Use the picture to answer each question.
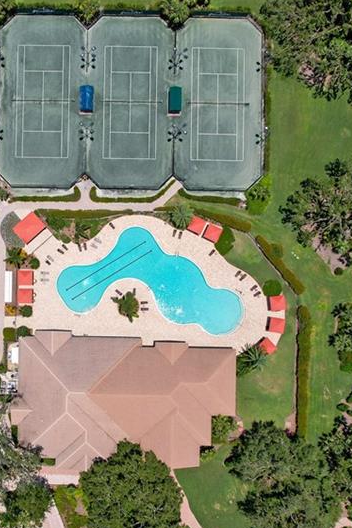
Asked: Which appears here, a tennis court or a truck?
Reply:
tennis court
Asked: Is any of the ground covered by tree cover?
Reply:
Yes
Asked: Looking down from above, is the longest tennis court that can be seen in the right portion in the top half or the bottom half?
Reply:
top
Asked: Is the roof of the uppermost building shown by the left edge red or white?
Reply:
red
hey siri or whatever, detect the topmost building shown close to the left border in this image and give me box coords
[12,211,47,246]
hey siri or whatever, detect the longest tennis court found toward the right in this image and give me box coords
[173,18,263,190]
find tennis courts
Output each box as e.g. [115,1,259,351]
[86,16,175,189]
[173,18,263,190]
[0,16,87,188]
